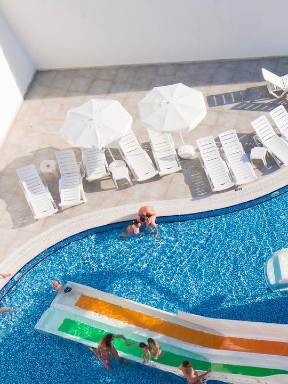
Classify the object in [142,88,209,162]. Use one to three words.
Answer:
umbrella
